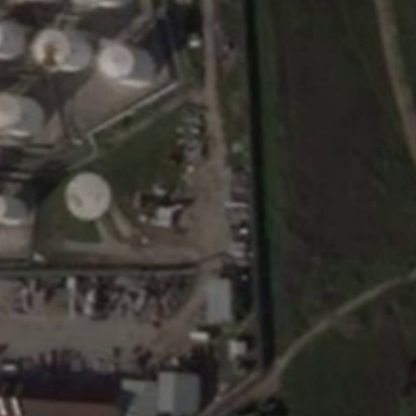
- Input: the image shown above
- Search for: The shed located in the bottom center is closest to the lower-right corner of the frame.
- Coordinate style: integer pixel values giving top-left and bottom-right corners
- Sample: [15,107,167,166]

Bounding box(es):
[229,342,251,361]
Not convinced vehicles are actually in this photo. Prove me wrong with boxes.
[190,332,212,341]
[4,364,18,371]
